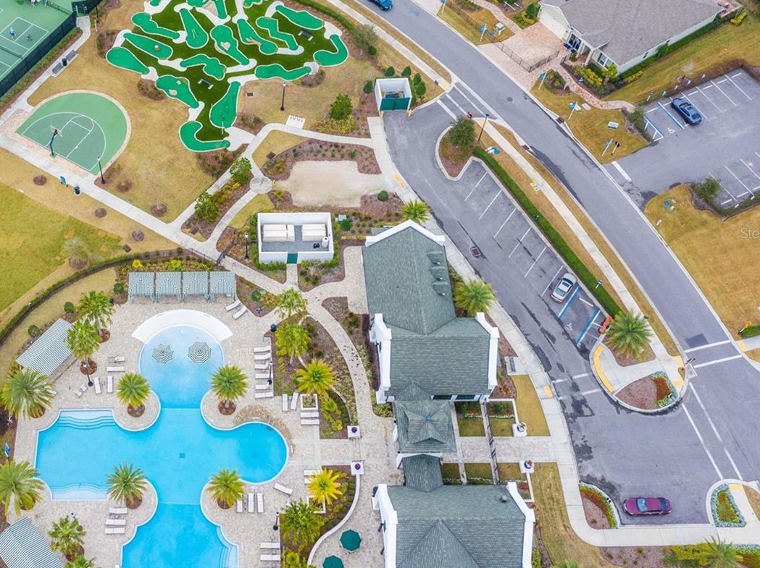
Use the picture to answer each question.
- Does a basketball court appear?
Yes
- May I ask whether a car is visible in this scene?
Yes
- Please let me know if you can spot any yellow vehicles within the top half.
No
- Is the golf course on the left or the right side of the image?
left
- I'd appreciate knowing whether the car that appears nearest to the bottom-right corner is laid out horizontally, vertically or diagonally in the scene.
horizontally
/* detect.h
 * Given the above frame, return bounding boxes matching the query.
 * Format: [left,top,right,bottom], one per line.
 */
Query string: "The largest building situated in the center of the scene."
[360,215,502,405]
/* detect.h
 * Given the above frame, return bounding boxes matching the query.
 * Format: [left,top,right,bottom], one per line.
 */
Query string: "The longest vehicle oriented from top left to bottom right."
[672,96,707,126]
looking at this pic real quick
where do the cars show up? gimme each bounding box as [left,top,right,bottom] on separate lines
[373,0,395,10]
[624,496,677,518]
[550,270,581,304]
[672,96,707,126]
